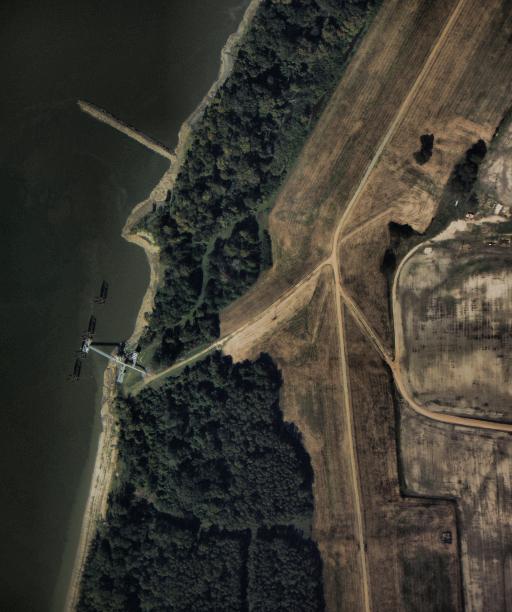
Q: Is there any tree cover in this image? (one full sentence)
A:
Yes, the picture does contain tree cover.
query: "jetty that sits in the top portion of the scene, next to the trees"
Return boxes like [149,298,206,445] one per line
[75,98,180,161]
